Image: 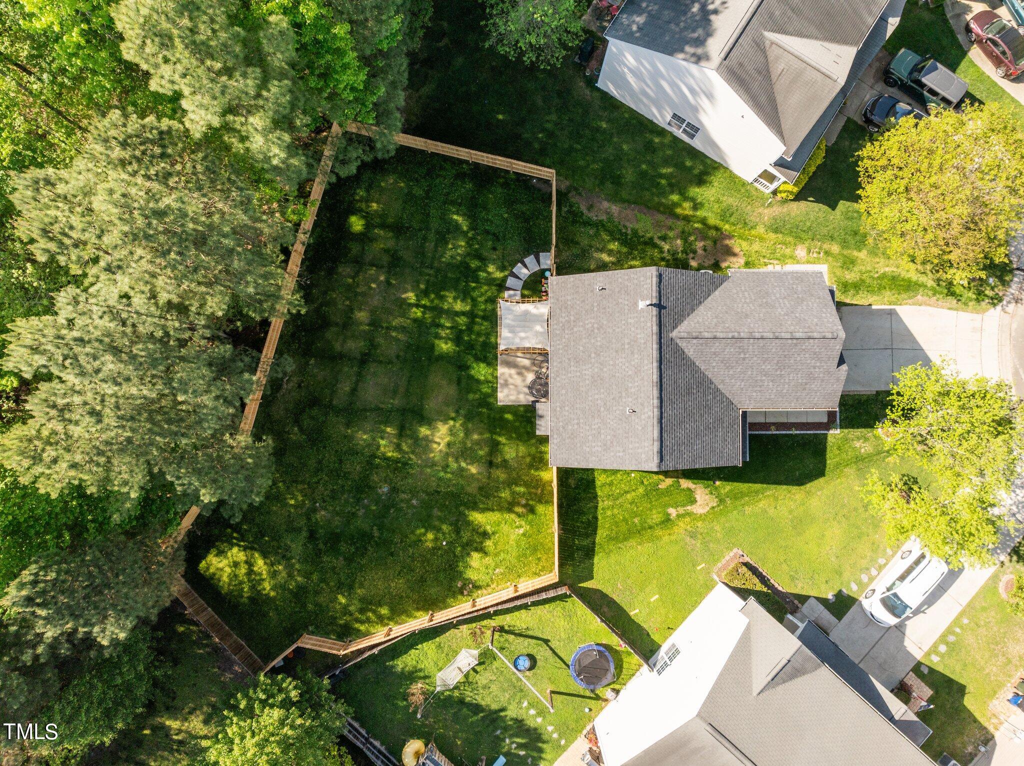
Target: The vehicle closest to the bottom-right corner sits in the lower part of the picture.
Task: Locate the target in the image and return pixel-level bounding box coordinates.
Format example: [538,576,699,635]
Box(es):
[862,542,947,626]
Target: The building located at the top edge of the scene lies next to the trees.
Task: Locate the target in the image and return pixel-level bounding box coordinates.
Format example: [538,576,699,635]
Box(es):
[595,0,909,195]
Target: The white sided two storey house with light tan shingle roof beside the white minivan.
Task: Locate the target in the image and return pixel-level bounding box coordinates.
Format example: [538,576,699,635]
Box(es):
[596,576,939,766]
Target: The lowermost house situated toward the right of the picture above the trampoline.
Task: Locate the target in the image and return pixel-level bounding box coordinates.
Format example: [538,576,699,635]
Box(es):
[536,267,849,471]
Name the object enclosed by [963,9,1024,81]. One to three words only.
car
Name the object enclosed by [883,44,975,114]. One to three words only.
car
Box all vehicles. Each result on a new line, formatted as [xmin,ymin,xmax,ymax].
[883,44,975,114]
[862,542,947,626]
[863,94,942,144]
[999,0,1024,35]
[963,9,1024,81]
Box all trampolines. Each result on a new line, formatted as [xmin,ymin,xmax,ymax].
[569,639,616,693]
